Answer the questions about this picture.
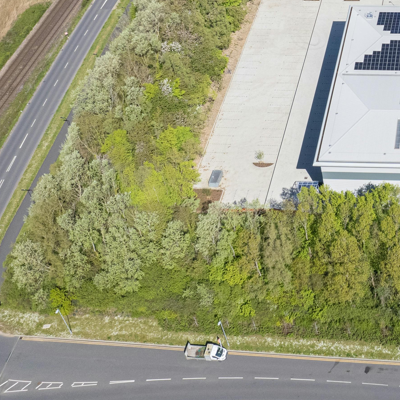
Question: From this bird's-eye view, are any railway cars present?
No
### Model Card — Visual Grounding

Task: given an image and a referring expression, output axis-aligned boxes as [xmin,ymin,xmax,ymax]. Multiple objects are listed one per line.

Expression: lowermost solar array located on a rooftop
[354,43,400,73]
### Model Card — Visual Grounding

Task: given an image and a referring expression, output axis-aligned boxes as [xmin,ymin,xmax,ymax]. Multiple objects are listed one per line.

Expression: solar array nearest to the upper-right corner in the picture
[378,14,400,32]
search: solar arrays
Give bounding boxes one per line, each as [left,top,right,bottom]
[378,14,400,32]
[354,43,400,73]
